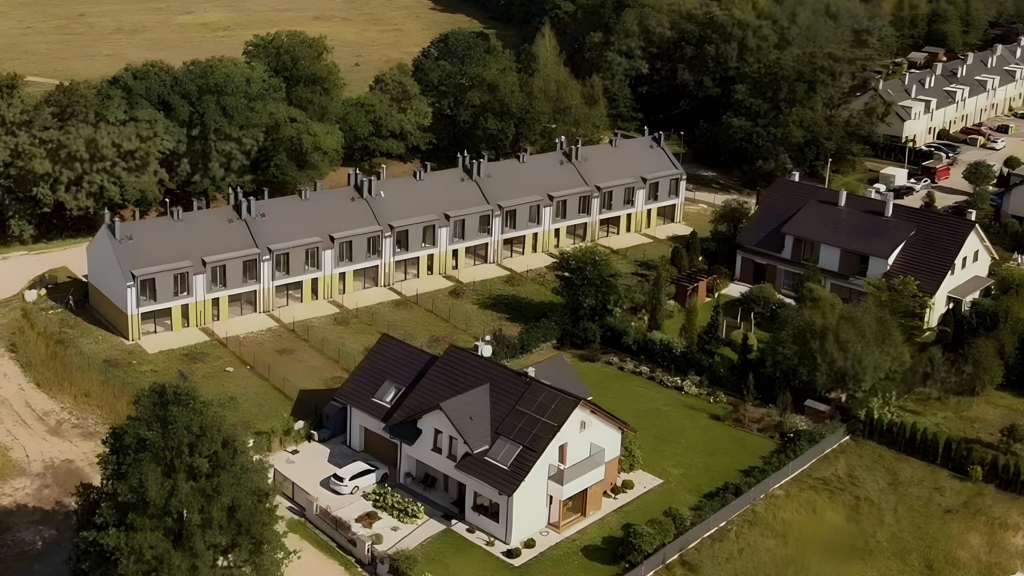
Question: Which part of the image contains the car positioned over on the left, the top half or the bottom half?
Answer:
bottom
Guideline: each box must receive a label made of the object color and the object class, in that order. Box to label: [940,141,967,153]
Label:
black vehicle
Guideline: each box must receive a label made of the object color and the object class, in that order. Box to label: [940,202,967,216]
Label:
black car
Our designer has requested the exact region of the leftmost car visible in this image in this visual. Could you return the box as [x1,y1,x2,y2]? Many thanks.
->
[331,455,393,491]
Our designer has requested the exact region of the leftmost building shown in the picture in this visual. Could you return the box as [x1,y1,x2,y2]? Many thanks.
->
[85,187,269,342]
